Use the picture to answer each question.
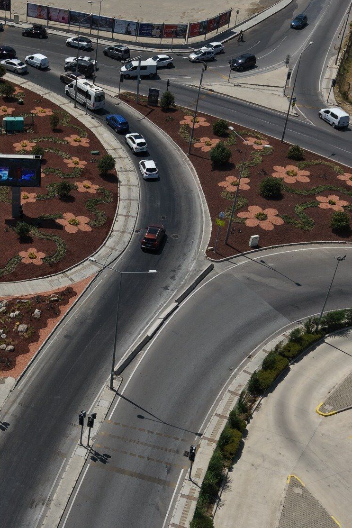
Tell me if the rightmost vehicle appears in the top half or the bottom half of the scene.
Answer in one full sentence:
It is in the top half that the rightmost vehicle appears.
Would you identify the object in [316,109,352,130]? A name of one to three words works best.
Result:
vehicle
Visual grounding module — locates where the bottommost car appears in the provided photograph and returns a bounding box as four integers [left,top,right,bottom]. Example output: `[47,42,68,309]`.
[137,227,167,256]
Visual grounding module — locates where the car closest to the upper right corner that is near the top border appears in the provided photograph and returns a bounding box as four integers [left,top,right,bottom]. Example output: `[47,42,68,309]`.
[290,14,307,30]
